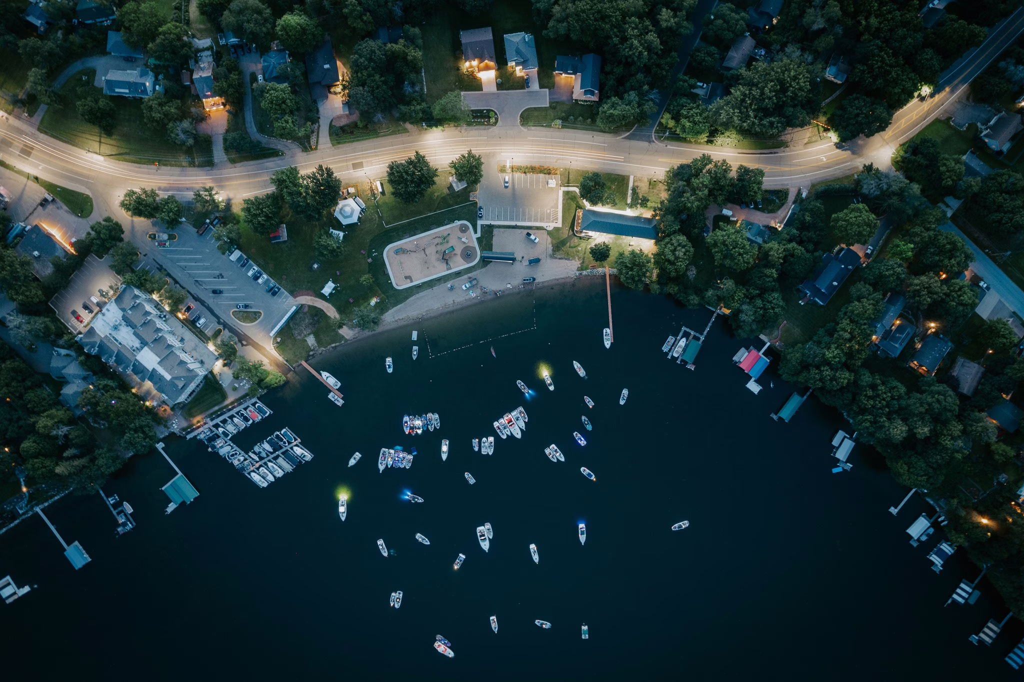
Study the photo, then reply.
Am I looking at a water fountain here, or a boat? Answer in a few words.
boat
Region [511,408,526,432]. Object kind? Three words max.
boat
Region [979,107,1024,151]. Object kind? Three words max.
house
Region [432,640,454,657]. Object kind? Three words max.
boat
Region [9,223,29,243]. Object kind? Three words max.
vehicle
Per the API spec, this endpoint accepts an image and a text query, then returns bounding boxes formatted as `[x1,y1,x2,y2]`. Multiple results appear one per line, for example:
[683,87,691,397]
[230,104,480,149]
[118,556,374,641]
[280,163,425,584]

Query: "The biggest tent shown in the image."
[333,197,364,229]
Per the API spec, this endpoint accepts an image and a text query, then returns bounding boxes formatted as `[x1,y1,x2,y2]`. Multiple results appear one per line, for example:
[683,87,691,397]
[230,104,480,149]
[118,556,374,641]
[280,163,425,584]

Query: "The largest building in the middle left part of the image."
[80,285,224,406]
